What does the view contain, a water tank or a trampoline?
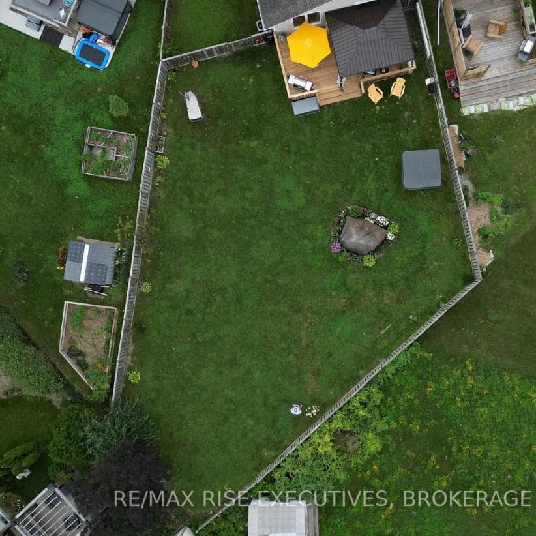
trampoline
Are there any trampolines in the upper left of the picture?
Yes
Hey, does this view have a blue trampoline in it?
Yes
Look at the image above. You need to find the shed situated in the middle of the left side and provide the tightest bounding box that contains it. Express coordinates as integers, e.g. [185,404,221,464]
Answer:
[64,242,123,285]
